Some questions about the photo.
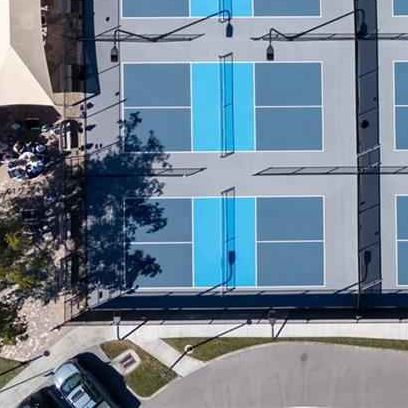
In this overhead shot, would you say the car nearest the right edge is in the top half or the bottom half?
bottom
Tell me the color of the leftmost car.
black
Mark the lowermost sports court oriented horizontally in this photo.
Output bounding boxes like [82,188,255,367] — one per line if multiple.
[125,196,325,288]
